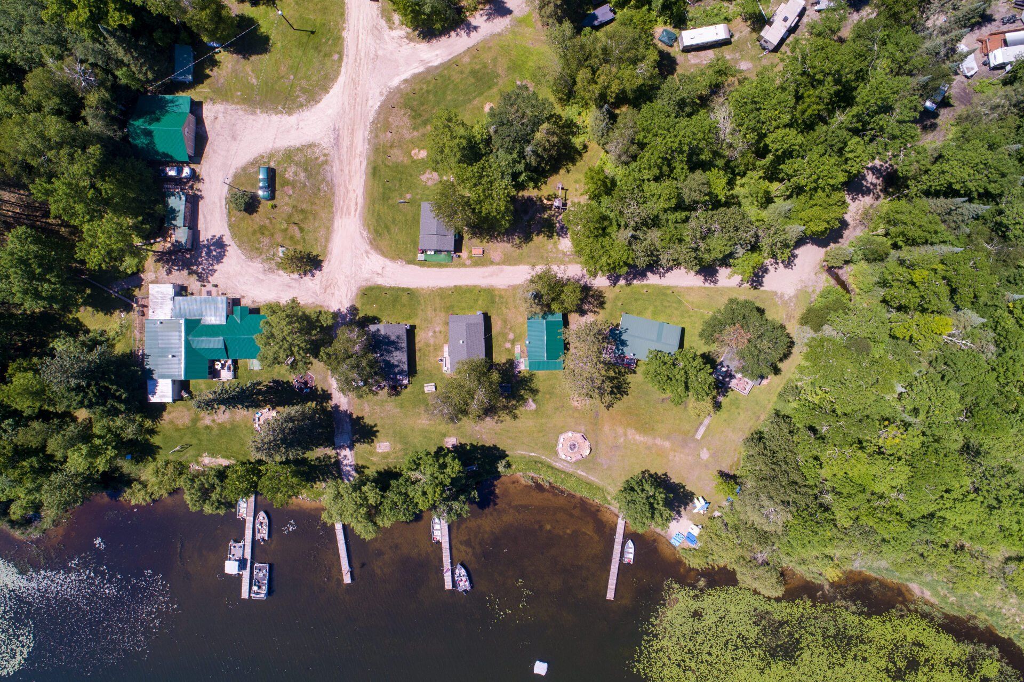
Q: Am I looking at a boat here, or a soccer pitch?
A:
boat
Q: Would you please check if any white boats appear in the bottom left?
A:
Yes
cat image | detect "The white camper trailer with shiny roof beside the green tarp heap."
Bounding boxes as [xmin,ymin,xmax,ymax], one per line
[673,24,730,55]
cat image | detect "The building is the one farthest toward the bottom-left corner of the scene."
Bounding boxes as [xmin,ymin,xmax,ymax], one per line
[145,284,266,402]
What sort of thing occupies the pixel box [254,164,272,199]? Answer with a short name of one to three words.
car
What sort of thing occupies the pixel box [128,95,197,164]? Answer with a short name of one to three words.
building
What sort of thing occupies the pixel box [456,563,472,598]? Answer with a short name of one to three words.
boat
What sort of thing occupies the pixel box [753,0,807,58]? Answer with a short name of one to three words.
vehicle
